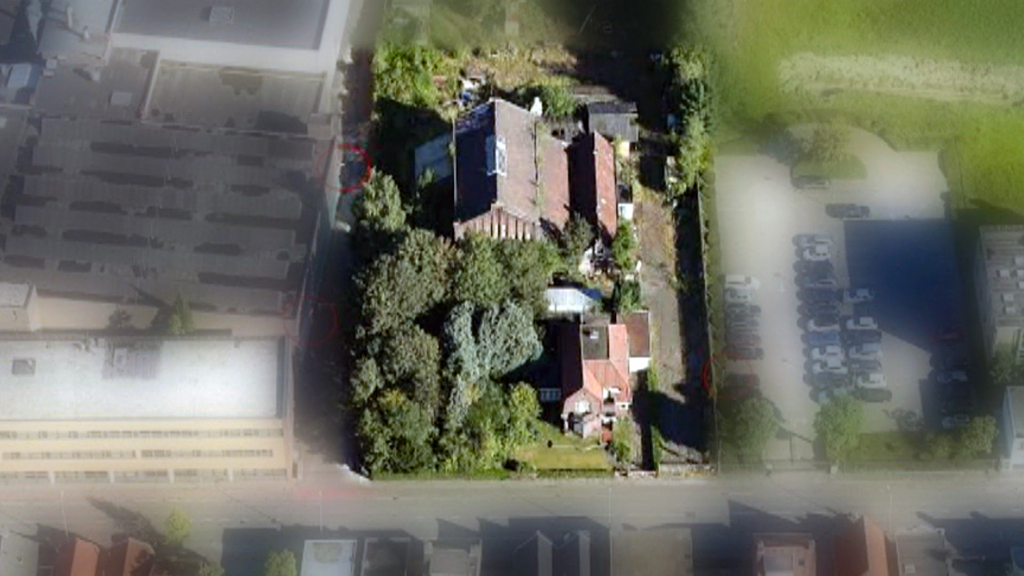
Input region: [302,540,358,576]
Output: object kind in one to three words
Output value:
house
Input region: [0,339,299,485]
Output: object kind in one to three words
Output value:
building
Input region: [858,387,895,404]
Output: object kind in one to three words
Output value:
car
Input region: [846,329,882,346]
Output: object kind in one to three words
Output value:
car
